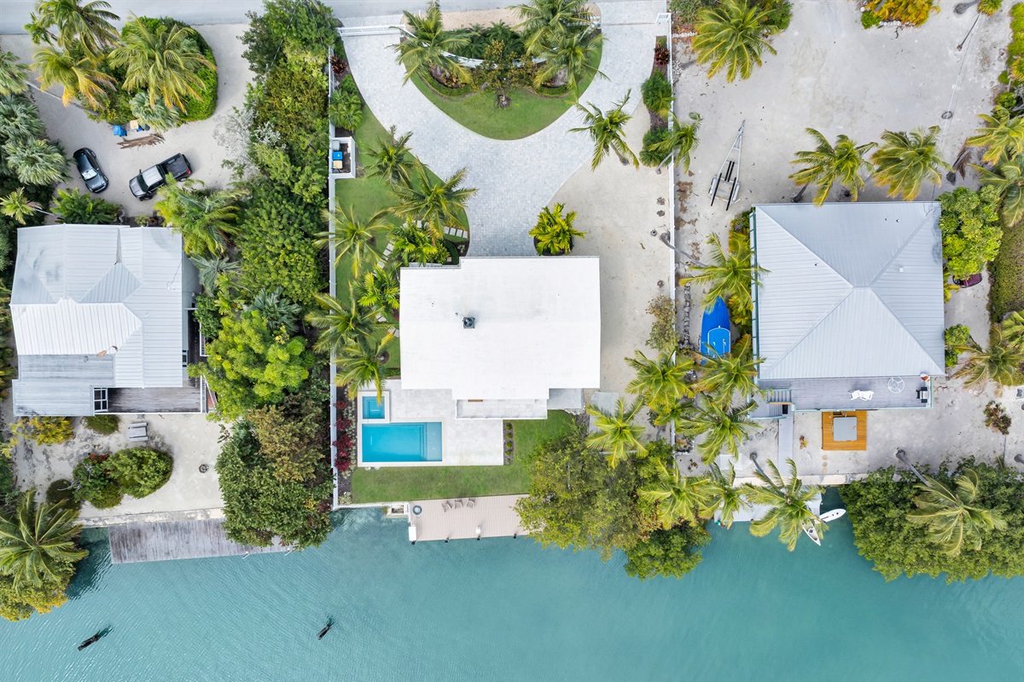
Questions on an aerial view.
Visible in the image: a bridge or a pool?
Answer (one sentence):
There is a pool in the scene.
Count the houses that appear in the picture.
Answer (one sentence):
My tally gives 3 houses in this view.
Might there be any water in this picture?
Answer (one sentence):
Yes, some water is visible.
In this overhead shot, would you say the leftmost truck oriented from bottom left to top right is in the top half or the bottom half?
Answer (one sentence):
Seen from above, the leftmost truck oriented from bottom left to top right lies in the top half of the view.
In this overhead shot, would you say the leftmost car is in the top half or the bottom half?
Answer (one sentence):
The top half of the photo is where the leftmost car is.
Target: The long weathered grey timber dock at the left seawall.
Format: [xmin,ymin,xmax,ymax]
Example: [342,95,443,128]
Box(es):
[109,518,291,564]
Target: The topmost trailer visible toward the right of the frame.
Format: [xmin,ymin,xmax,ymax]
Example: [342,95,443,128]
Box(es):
[710,120,742,210]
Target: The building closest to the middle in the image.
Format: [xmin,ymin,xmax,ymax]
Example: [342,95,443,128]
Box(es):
[400,255,601,419]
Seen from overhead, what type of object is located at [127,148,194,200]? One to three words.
truck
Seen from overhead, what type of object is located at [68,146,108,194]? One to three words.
car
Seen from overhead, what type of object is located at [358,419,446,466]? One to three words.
swimming pool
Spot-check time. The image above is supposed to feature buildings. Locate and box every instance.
[739,201,945,417]
[10,223,216,417]
[400,255,601,419]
